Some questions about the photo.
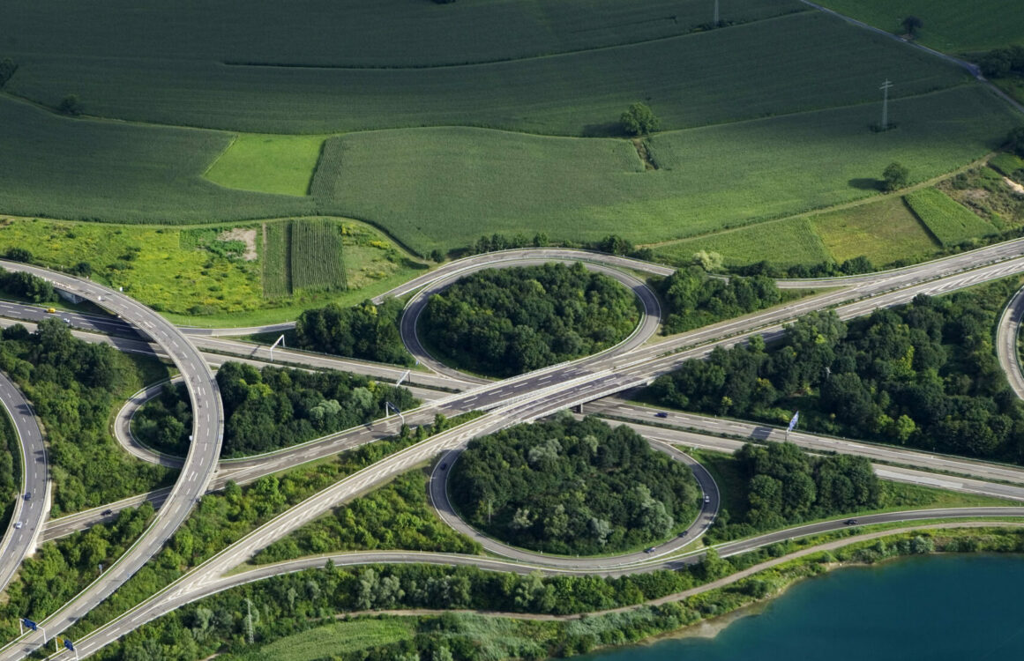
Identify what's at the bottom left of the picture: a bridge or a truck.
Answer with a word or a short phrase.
bridge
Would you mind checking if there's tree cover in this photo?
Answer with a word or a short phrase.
Yes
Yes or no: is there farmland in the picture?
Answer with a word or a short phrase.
Yes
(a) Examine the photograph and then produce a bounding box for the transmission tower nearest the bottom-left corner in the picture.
[243,598,255,644]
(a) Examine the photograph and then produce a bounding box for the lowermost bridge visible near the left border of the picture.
[0,488,51,567]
